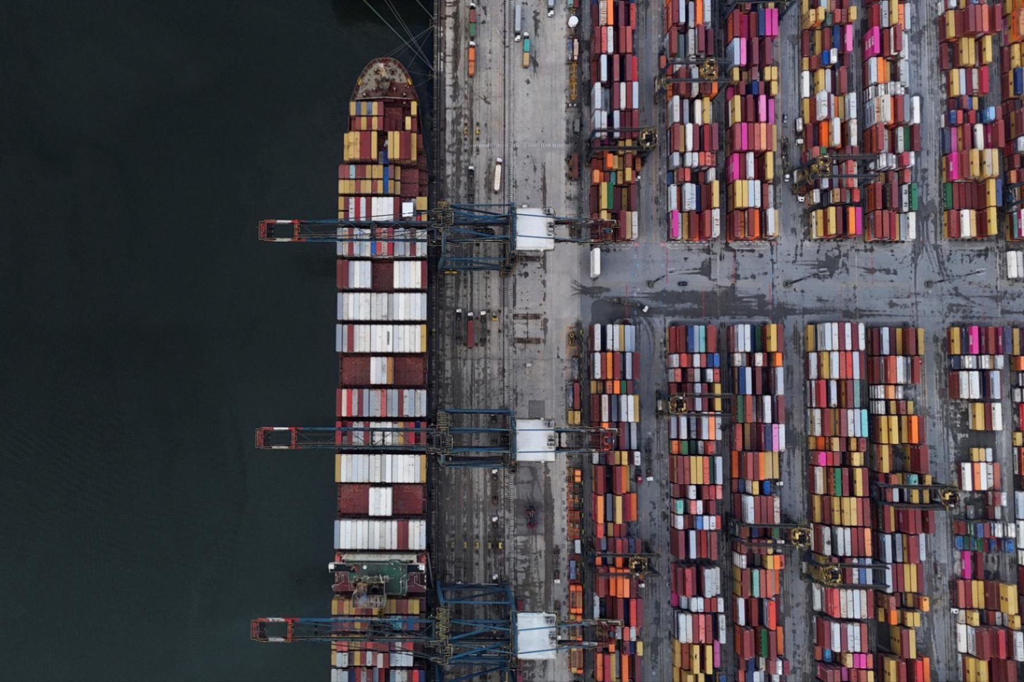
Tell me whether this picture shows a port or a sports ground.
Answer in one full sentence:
The picture captures a port.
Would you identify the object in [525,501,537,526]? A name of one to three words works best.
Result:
vehicle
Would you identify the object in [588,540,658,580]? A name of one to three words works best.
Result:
container crane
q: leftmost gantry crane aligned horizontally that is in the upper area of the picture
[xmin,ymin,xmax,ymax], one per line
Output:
[257,198,620,284]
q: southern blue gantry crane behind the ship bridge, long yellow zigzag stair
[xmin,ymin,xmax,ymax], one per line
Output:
[250,560,624,672]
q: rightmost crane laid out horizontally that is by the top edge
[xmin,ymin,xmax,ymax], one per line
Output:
[722,0,799,28]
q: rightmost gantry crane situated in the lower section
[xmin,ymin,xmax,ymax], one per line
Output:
[867,476,957,511]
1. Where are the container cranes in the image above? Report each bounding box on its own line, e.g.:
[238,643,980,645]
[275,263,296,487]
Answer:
[729,513,808,550]
[660,391,735,420]
[722,0,799,28]
[253,397,622,474]
[587,127,656,166]
[804,551,888,592]
[588,540,658,580]
[658,59,731,102]
[250,560,624,672]
[867,476,957,511]
[257,198,620,284]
